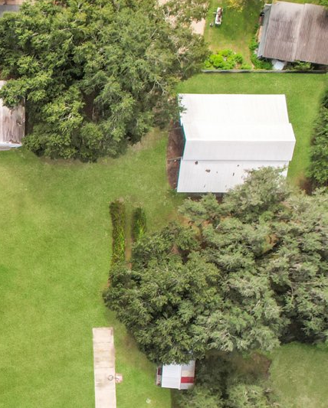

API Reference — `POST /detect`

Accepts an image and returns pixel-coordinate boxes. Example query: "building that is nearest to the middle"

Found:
[168,95,296,193]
